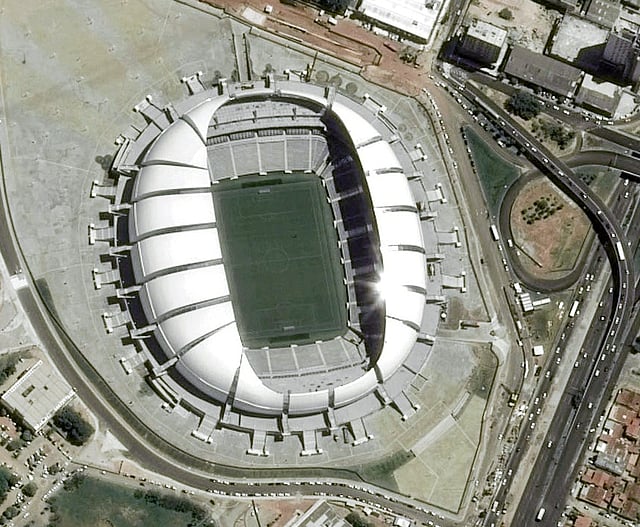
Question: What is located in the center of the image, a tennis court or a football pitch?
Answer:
football pitch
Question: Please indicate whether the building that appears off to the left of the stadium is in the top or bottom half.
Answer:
bottom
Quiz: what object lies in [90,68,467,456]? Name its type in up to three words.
stadium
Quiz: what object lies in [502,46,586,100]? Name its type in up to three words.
building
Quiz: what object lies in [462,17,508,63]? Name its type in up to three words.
building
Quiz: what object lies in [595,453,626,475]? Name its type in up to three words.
house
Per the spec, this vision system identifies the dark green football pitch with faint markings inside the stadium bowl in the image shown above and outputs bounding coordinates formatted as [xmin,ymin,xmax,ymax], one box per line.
[212,171,348,349]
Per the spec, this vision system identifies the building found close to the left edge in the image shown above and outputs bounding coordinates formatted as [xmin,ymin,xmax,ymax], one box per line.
[2,360,75,435]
